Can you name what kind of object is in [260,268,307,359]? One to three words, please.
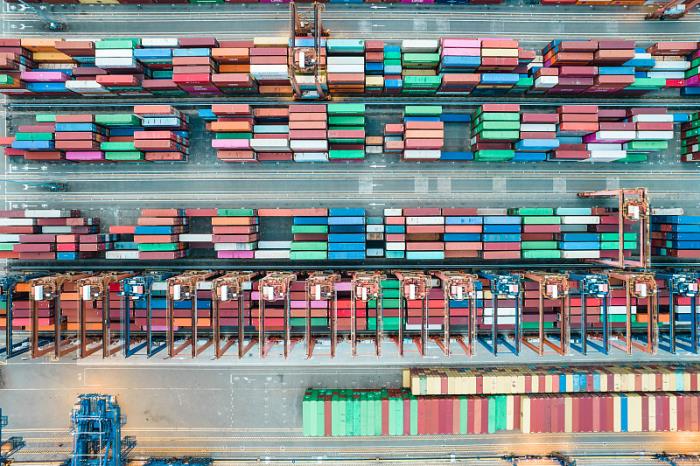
container crane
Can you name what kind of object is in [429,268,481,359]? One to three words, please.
container crane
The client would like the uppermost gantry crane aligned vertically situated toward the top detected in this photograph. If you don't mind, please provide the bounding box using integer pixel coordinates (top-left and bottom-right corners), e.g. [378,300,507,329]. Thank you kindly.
[288,0,332,101]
